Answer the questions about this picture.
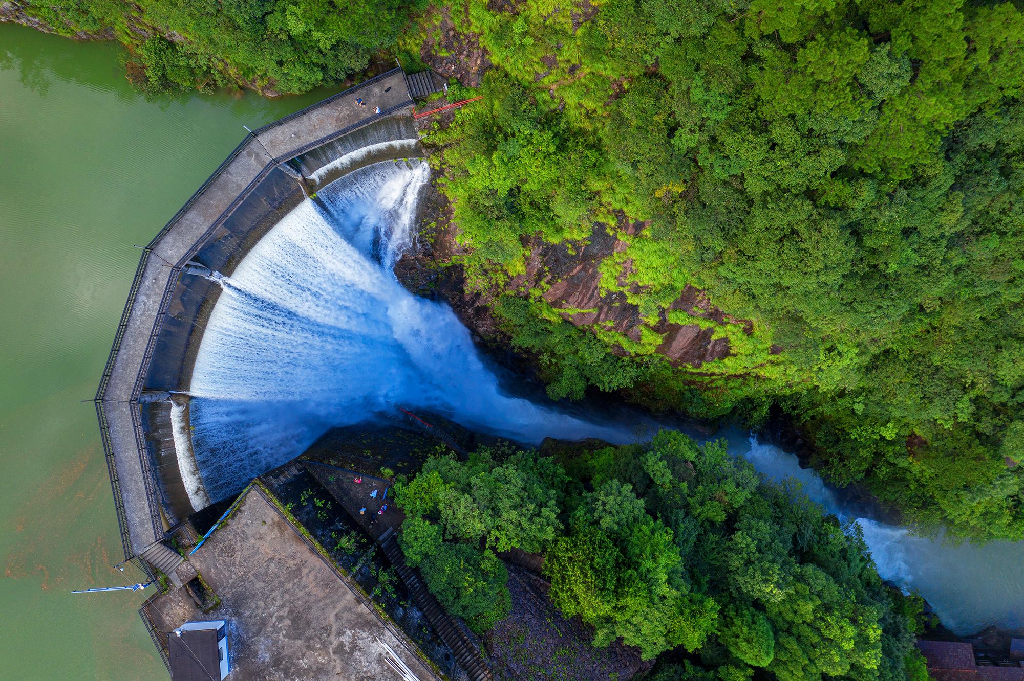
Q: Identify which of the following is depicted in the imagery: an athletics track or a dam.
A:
dam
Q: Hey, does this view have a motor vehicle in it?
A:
No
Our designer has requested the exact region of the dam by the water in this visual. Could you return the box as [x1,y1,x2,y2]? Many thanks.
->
[142,94,462,541]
